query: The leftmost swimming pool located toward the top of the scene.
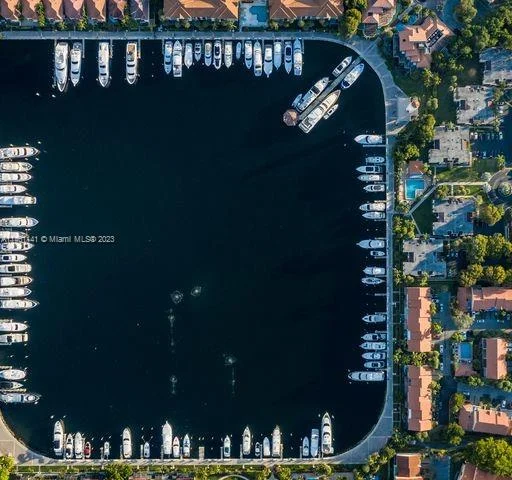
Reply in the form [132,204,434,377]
[252,6,267,22]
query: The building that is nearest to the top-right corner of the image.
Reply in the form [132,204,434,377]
[475,46,512,88]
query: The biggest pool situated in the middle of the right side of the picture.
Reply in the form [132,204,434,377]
[405,179,424,199]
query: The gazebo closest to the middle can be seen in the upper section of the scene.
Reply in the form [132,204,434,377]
[284,108,298,124]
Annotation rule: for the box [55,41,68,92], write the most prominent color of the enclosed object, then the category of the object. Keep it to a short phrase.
white boat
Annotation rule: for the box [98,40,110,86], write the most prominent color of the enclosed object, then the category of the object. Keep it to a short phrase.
white boat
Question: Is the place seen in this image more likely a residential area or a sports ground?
residential area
